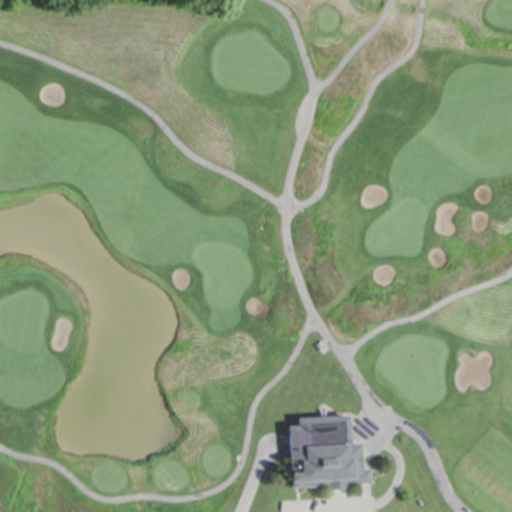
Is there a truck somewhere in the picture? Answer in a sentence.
No, no truck is visible in the view.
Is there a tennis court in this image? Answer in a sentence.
No, I can see no tennis court in this picture.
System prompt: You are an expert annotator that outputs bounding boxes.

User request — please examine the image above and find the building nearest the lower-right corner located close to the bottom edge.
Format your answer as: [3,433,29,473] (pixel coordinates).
[290,417,371,492]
